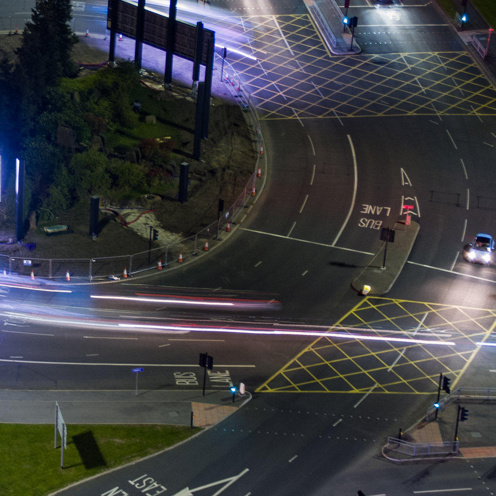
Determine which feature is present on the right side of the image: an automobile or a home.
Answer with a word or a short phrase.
automobile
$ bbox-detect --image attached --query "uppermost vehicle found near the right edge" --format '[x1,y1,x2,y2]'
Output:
[470,223,496,259]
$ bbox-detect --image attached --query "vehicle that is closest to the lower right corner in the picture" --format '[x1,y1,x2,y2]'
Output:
[381,325,443,352]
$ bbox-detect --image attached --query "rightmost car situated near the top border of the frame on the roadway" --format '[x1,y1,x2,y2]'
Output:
[214,18,249,44]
